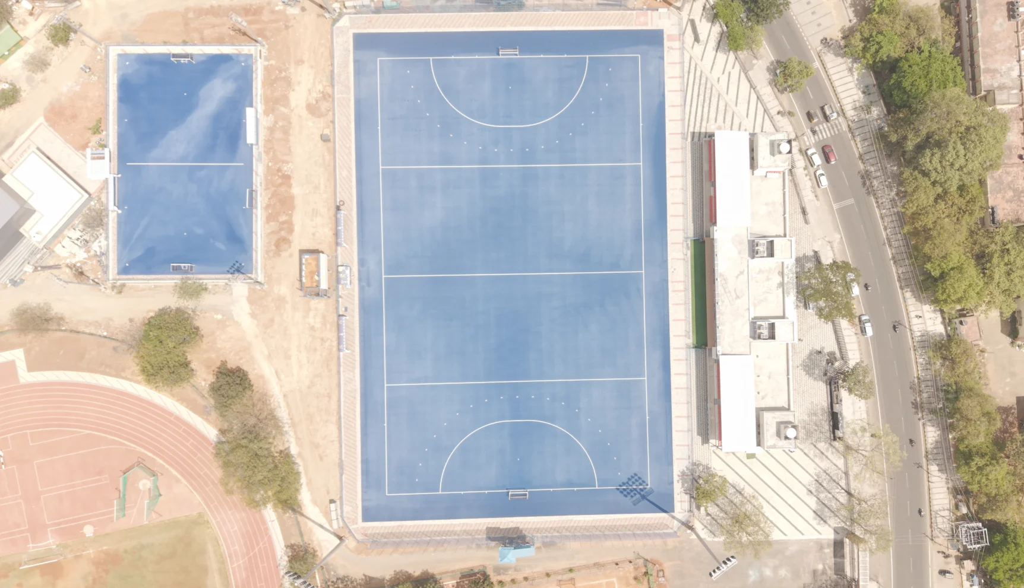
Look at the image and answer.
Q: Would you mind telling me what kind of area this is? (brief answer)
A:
sports ground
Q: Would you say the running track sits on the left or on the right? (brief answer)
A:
left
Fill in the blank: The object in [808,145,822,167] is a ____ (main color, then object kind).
white car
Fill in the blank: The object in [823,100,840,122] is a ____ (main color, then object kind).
white vehicle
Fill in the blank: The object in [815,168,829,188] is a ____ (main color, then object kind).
white car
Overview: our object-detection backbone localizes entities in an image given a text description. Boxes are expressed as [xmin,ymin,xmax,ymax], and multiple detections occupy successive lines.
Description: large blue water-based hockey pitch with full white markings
[337,12,691,539]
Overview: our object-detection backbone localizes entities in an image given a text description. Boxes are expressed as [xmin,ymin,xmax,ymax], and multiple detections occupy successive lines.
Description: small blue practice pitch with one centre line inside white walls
[111,48,262,278]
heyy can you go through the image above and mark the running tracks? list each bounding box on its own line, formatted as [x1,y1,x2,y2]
[0,349,291,588]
